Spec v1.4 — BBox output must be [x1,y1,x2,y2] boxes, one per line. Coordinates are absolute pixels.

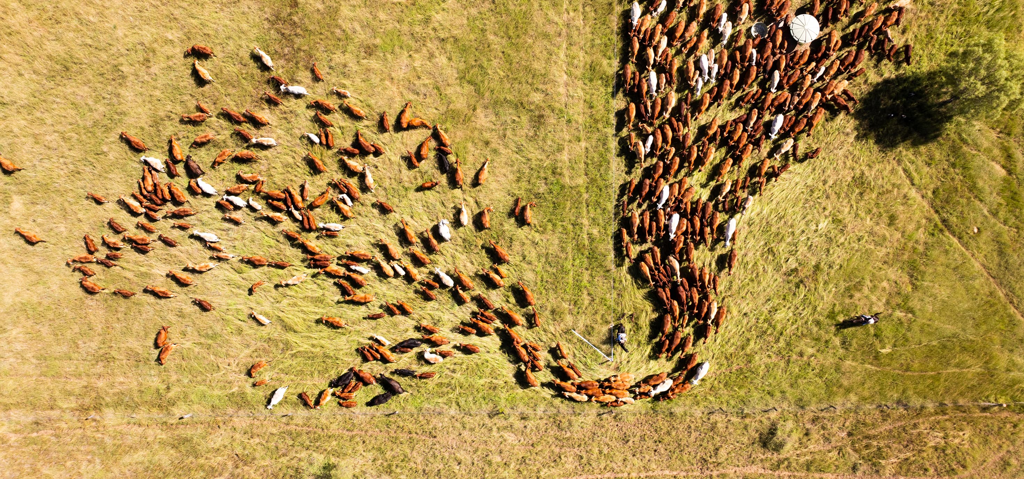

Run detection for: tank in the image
[784,13,820,47]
